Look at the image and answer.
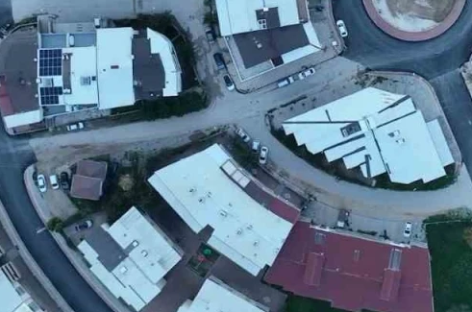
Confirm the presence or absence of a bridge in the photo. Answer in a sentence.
No, there is no bridge in the image.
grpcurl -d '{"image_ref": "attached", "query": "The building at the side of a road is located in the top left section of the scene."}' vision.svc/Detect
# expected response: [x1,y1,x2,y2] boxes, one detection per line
[0,22,185,128]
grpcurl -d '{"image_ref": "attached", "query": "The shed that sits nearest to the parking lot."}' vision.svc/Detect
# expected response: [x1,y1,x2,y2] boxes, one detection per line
[71,157,108,199]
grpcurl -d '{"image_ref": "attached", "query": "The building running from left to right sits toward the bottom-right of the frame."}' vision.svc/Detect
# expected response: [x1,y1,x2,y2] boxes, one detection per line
[264,215,434,312]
